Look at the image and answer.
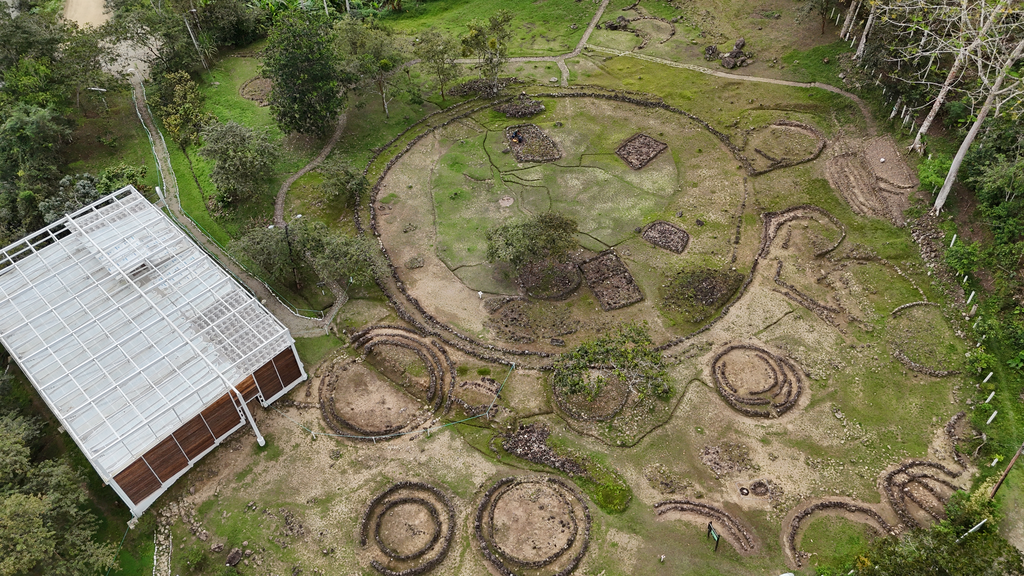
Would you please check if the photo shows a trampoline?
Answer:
No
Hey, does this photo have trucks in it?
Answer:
No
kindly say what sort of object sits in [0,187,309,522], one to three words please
shed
